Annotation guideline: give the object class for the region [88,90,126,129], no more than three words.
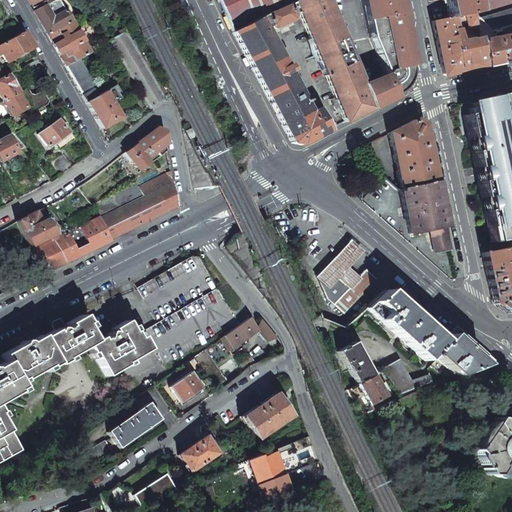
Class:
house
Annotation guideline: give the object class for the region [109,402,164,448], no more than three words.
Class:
building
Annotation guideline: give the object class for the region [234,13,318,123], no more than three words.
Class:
house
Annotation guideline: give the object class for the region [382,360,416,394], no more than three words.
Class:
shed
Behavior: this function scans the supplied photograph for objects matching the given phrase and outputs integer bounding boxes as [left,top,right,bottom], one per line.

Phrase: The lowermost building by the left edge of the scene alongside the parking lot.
[0,314,158,463]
